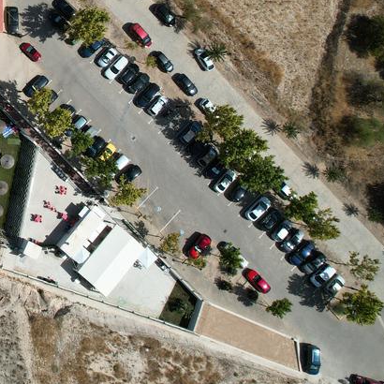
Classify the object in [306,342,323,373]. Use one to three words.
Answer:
car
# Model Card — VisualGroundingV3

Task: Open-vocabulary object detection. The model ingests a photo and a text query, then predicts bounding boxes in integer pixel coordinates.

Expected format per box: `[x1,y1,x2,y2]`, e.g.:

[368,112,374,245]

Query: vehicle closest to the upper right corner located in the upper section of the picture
[191,44,215,73]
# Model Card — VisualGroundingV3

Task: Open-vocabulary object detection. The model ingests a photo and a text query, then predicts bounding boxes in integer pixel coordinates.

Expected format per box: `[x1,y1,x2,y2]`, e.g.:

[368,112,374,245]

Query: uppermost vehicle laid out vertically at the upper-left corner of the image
[6,6,19,33]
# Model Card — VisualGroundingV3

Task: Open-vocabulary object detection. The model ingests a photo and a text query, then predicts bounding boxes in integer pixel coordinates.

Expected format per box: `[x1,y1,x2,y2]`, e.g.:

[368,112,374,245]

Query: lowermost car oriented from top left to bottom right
[241,266,270,294]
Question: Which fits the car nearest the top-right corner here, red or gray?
gray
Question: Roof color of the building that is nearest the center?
white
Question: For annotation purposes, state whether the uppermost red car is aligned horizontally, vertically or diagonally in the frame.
diagonally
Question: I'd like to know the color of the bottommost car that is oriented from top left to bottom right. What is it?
red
